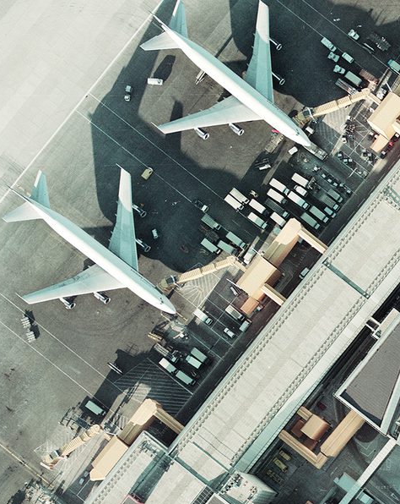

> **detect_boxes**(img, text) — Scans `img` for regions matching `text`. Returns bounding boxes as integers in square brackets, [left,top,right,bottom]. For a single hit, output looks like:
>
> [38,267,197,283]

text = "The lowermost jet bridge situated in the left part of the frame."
[51,422,114,460]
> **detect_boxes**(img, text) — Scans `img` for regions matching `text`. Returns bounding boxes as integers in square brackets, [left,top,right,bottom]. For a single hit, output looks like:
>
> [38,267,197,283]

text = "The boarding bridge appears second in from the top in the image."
[165,256,248,289]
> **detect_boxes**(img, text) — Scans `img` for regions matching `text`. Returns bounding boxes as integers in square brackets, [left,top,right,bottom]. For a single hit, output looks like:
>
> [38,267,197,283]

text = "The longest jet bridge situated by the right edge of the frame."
[303,87,385,121]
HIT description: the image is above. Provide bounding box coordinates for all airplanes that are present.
[6,165,174,315]
[145,0,312,147]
